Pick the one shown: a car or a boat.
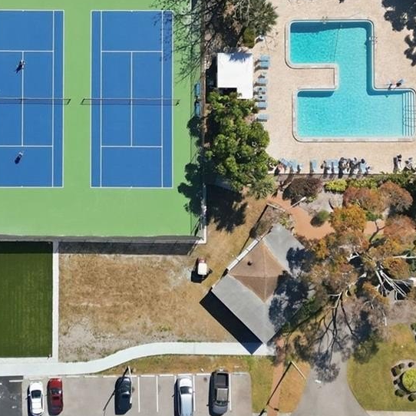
car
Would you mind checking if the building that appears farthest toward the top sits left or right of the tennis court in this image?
on the right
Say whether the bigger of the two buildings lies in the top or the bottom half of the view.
bottom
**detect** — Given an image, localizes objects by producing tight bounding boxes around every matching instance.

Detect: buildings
[217,54,253,98]
[212,224,327,343]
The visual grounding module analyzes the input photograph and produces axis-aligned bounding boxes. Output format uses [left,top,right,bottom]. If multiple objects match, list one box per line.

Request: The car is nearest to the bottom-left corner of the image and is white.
[28,380,44,416]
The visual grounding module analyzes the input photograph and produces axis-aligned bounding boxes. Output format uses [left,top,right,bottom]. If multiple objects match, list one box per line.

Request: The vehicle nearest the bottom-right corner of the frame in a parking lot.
[211,369,230,412]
